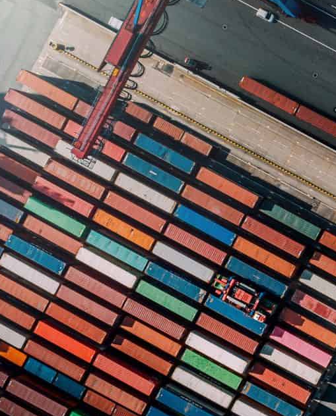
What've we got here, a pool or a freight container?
freight container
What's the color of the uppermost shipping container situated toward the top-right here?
red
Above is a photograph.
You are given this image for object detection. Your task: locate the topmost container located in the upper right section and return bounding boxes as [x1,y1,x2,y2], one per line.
[239,75,301,117]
